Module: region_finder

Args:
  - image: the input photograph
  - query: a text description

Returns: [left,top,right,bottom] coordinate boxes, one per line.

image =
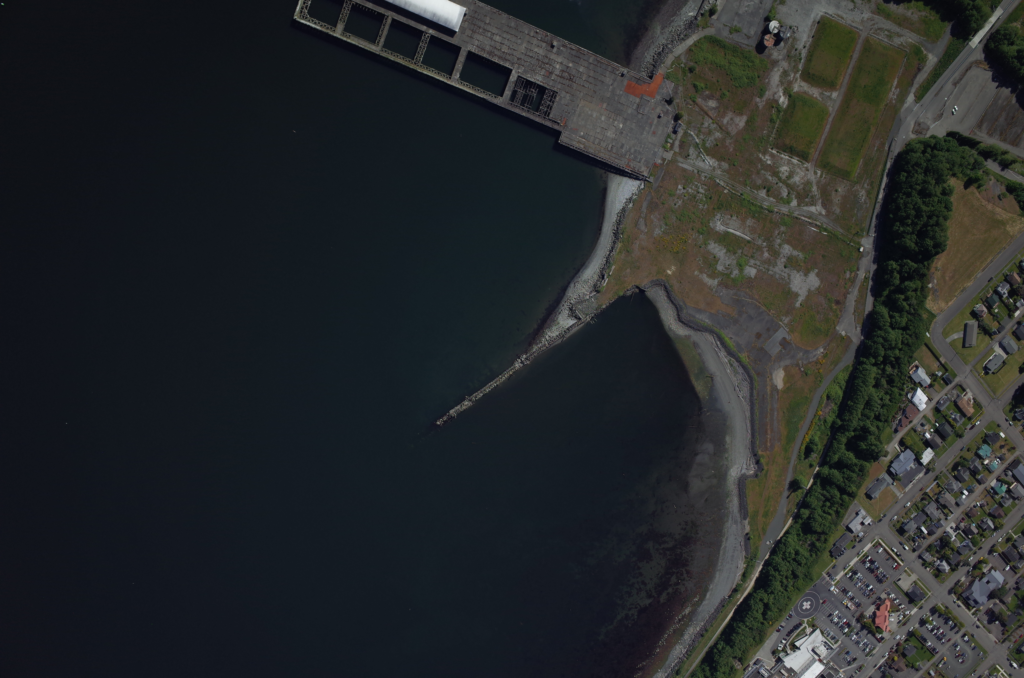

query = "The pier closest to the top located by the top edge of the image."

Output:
[294,0,677,181]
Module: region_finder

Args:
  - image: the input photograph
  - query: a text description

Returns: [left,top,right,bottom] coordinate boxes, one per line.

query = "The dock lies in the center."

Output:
[436,318,584,424]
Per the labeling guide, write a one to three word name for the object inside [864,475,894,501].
house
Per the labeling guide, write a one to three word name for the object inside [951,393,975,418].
house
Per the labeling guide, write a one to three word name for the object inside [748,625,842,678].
building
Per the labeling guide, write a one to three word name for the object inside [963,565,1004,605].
building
